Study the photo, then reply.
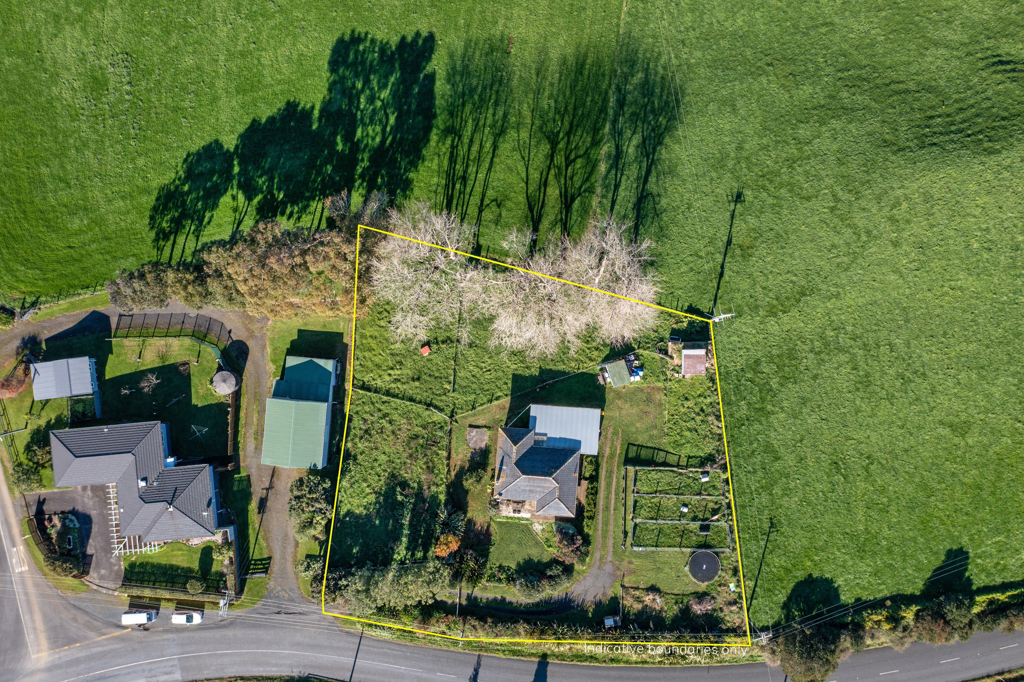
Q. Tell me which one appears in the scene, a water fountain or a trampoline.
trampoline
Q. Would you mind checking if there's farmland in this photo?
Yes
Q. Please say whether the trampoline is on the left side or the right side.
right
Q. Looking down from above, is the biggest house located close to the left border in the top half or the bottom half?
bottom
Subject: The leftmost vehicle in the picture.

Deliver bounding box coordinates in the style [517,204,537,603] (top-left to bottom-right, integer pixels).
[122,609,159,625]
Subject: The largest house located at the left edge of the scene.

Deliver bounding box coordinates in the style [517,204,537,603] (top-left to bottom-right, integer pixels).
[49,421,219,543]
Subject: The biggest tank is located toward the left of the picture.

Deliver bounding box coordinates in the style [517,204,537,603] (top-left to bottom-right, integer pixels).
[213,371,239,394]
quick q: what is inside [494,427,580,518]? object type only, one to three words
house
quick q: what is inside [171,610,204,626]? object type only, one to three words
car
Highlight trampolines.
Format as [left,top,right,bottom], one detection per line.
[688,551,721,584]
